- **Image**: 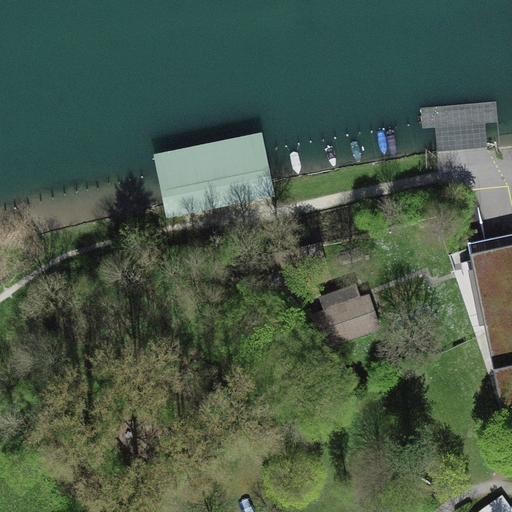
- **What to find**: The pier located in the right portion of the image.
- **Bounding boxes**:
[419,101,497,152]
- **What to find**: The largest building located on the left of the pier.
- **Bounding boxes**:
[154,132,274,218]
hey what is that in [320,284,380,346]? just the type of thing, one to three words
house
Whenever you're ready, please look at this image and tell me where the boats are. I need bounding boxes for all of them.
[352,140,361,162]
[290,150,301,174]
[328,146,336,166]
[378,130,388,154]
[386,128,398,157]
